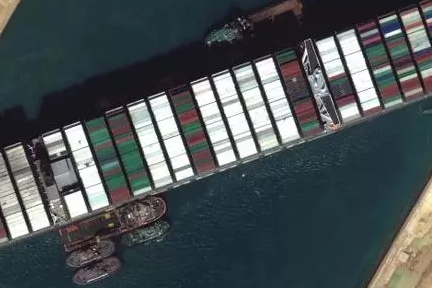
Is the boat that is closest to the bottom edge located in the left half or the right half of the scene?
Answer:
left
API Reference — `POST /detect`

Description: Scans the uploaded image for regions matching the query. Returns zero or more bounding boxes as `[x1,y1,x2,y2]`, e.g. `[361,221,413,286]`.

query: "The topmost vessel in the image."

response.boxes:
[246,0,307,25]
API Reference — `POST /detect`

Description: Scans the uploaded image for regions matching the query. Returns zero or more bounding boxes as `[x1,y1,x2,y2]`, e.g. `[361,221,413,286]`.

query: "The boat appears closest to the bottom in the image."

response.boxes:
[71,258,122,284]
